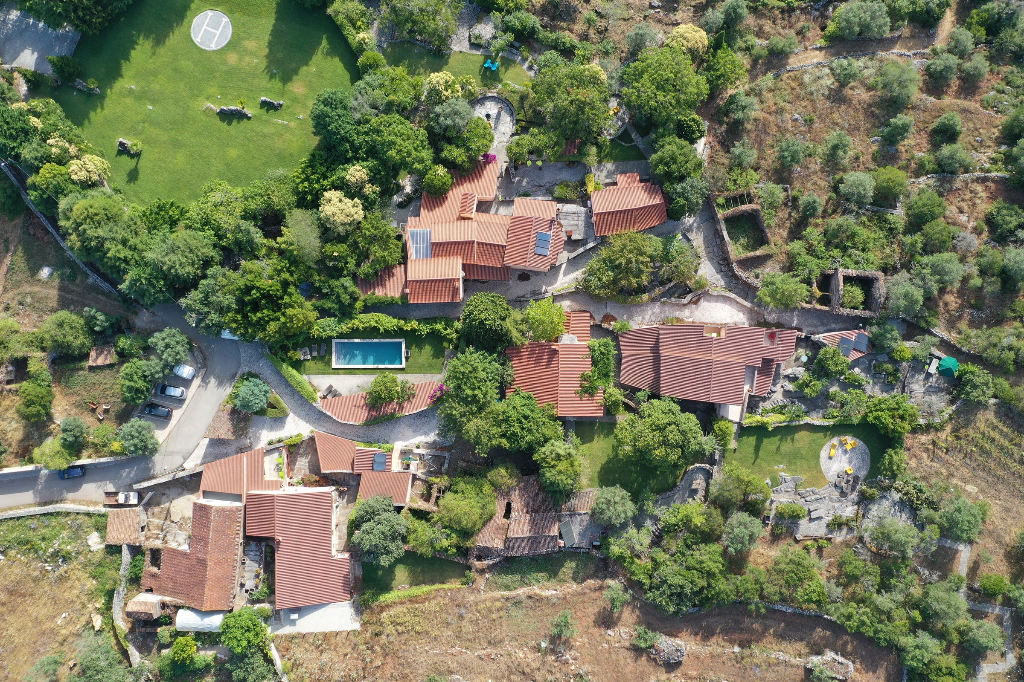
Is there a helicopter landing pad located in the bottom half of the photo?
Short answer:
No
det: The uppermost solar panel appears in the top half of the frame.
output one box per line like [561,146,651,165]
[534,232,551,256]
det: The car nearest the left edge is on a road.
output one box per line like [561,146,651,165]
[58,466,87,481]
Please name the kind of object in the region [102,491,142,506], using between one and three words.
vehicle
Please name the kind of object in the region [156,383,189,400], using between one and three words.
car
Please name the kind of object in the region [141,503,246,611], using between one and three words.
barn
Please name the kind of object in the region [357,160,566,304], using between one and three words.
house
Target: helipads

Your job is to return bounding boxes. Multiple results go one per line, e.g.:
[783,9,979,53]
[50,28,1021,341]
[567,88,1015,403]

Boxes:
[190,8,232,50]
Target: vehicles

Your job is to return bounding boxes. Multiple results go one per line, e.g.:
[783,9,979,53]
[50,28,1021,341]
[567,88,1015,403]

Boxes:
[156,383,189,400]
[102,491,142,506]
[58,466,87,481]
[168,363,199,379]
[144,402,175,420]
